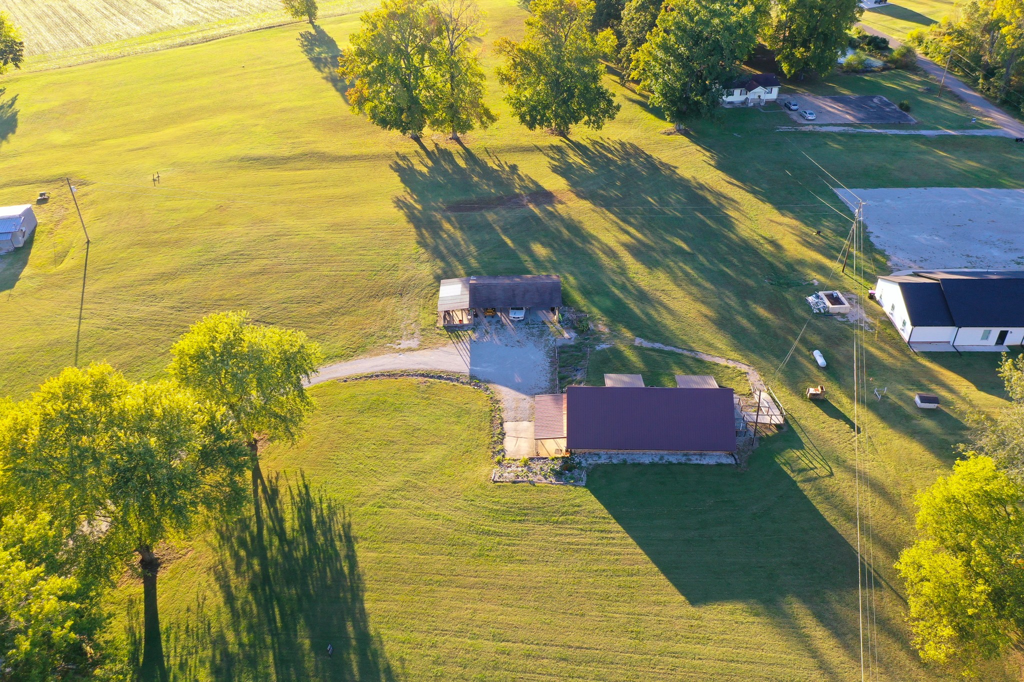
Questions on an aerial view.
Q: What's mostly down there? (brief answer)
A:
grass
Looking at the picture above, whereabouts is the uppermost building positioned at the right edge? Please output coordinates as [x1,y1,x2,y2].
[870,266,1024,356]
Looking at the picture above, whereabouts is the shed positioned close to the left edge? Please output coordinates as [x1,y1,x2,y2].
[0,203,37,255]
